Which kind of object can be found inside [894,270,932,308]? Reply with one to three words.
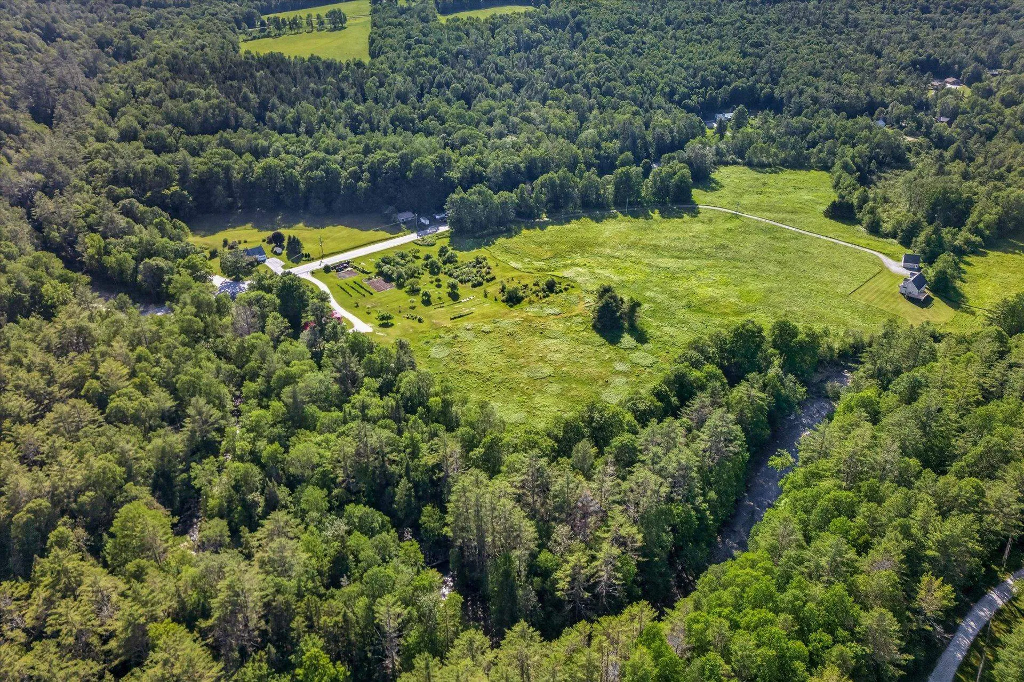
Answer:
house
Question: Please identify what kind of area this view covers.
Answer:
forest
